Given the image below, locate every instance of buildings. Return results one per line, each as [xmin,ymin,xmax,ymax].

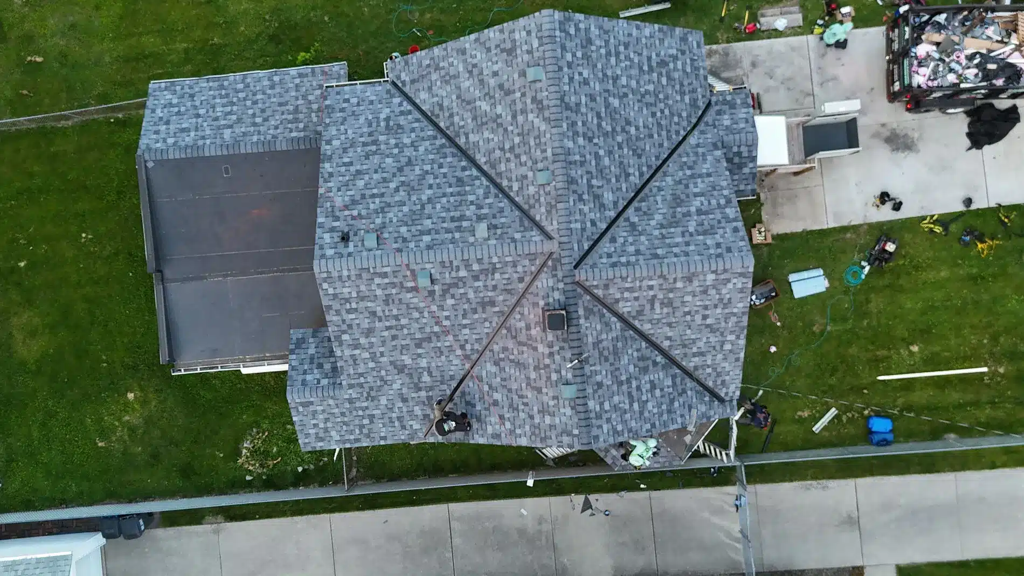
[0,531,117,576]
[138,7,758,472]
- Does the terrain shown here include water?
No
